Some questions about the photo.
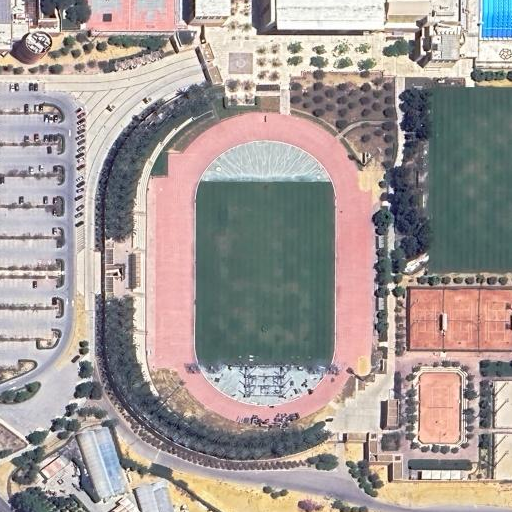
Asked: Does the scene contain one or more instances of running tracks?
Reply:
Yes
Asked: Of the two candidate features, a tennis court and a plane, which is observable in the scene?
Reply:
tennis court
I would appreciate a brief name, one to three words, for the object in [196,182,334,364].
sports field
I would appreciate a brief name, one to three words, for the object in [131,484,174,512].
building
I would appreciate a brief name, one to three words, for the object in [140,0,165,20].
basketball court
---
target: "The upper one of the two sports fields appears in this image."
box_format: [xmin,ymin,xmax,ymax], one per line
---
[428,88,512,272]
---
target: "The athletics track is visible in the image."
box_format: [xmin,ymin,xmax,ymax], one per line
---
[147,112,372,424]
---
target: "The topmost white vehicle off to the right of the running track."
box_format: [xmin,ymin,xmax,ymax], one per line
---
[404,257,428,273]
